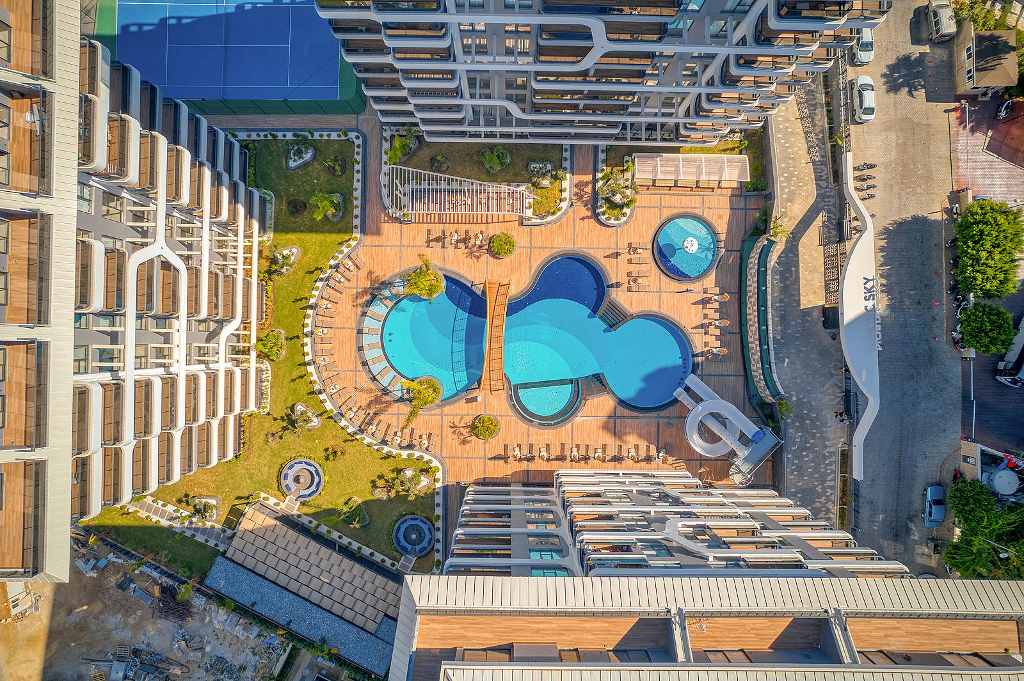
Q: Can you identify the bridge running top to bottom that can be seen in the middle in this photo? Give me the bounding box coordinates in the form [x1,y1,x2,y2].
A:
[482,281,509,393]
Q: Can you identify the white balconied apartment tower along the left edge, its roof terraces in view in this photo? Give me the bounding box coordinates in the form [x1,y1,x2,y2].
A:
[0,0,256,584]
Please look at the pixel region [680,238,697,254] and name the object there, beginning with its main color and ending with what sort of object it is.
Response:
white fountain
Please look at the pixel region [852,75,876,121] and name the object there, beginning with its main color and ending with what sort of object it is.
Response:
white car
